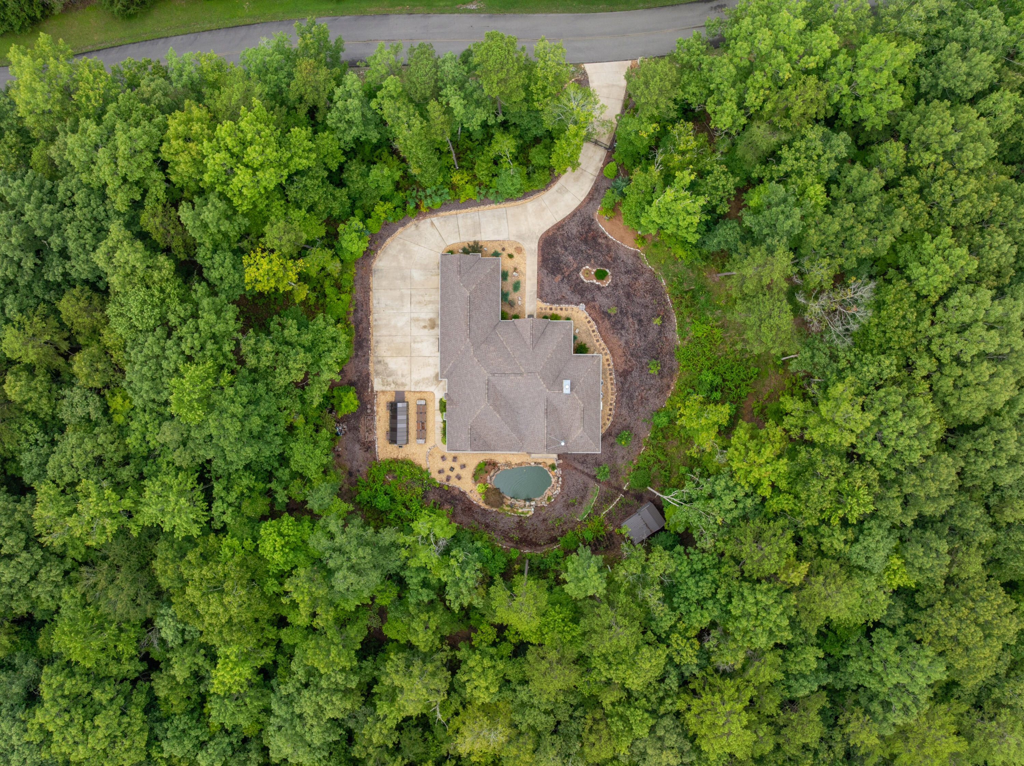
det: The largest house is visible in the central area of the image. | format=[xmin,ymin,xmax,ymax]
[438,253,602,461]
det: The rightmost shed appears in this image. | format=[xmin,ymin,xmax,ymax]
[621,501,661,545]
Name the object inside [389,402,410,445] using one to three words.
greenhouse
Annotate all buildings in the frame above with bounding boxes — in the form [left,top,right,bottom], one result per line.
[621,501,661,545]
[438,253,602,461]
[389,402,410,445]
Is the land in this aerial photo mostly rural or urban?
rural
